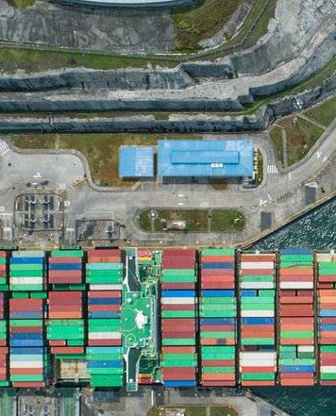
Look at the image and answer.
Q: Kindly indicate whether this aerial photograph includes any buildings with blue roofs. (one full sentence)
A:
Yes, there's a building with a blue roof here.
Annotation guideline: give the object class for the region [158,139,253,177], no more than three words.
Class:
building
